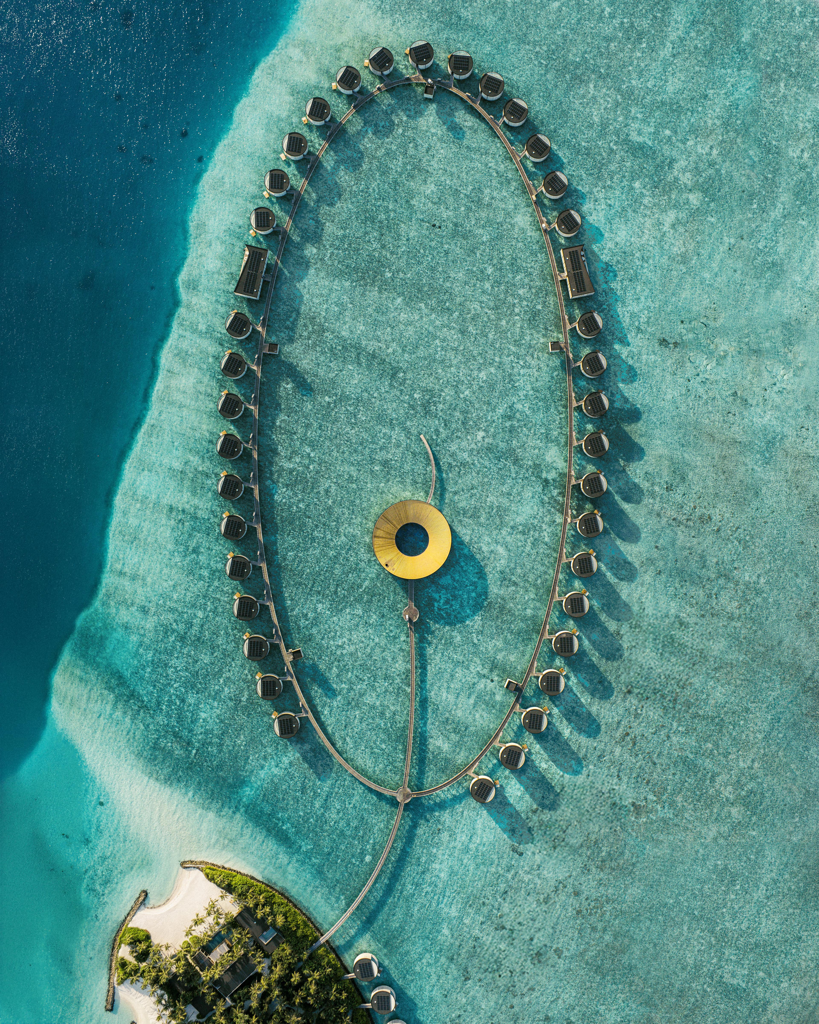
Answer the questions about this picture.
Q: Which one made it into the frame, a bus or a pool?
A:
pool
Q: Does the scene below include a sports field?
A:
No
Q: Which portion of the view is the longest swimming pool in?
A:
bottom left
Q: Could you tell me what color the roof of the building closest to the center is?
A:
yellow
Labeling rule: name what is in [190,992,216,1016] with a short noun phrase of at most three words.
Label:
building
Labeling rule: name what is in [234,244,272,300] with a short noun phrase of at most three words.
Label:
house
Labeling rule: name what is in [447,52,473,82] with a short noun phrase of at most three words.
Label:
house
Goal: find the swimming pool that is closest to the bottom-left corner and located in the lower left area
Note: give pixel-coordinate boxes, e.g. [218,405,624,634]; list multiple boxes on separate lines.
[201,927,238,955]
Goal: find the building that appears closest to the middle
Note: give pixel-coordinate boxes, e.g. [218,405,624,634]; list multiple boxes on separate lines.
[372,500,452,579]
